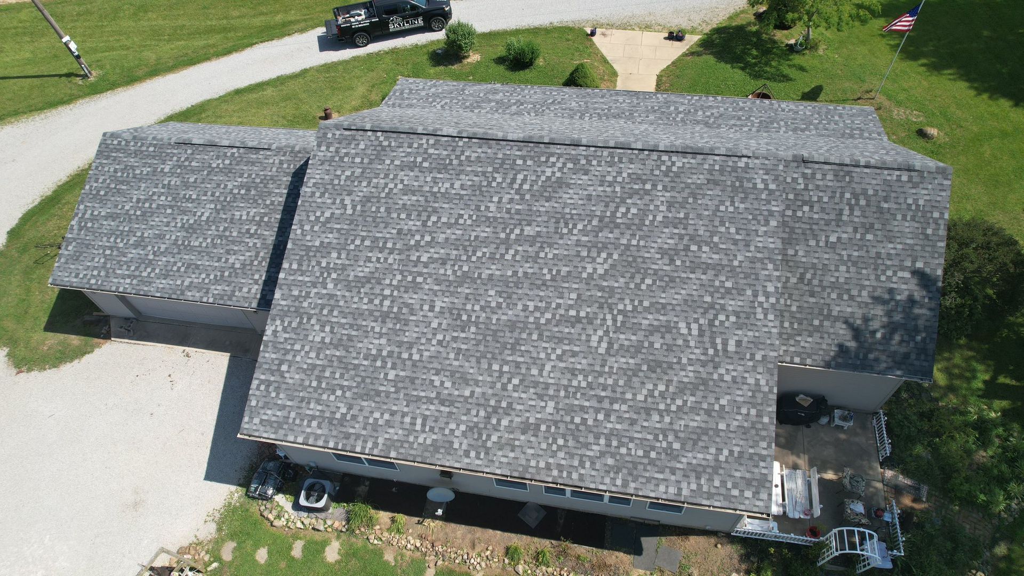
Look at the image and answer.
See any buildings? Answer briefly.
Yes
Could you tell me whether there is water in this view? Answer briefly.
No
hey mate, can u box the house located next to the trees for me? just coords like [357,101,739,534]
[48,77,953,534]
